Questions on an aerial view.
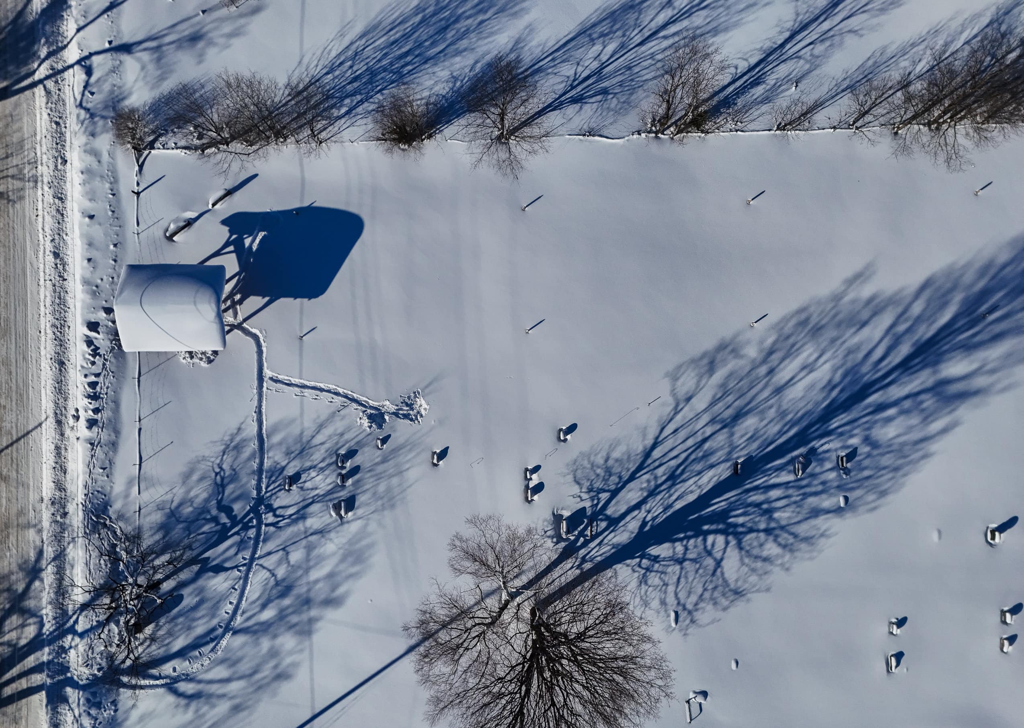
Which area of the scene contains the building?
left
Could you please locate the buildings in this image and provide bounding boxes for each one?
[114,263,228,352]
